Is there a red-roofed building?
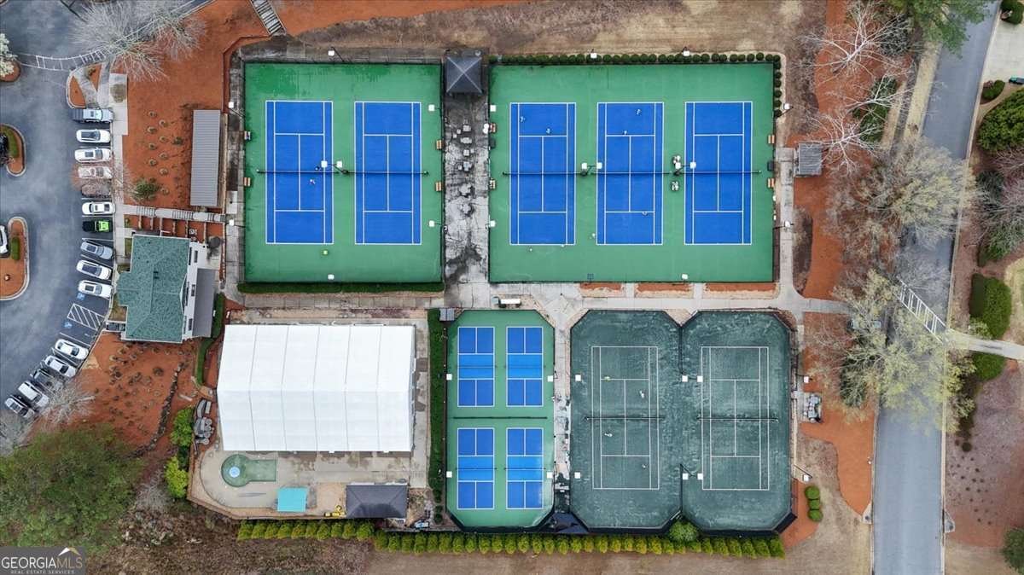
No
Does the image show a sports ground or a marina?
sports ground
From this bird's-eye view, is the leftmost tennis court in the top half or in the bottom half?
top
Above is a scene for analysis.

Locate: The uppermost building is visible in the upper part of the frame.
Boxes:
[446,52,483,96]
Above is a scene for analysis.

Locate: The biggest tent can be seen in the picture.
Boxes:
[215,323,418,451]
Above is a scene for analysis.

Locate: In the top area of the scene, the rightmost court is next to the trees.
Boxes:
[674,65,773,282]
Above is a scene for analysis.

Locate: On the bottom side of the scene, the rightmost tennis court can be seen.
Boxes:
[681,312,792,529]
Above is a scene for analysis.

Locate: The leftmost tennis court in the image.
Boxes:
[245,64,344,282]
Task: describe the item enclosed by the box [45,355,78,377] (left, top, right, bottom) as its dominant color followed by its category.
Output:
white car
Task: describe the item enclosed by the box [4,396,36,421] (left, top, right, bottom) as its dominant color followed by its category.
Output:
gray car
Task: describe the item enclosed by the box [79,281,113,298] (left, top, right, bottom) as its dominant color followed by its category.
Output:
white car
